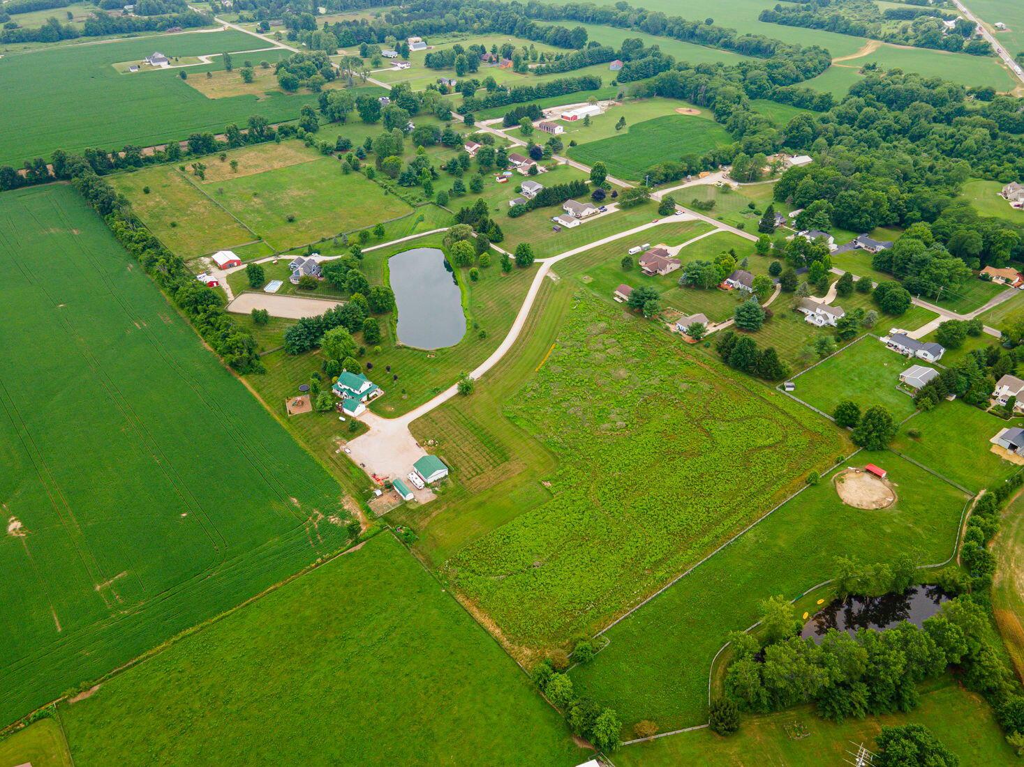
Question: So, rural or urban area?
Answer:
rural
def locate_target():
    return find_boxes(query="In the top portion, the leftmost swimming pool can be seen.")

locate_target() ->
[259,279,287,295]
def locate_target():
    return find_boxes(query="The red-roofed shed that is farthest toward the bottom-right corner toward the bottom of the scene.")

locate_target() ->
[863,460,891,482]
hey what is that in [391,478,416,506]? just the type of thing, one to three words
shed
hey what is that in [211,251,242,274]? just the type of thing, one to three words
barn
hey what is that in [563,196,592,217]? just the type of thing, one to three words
house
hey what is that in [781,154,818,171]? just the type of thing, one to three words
building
